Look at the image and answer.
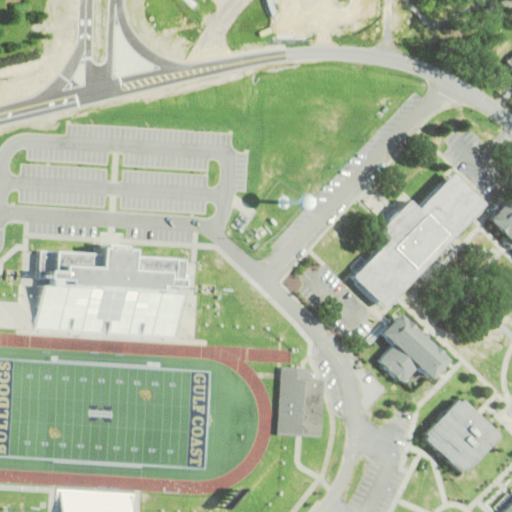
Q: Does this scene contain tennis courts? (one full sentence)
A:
No, the scene contains no tennis court.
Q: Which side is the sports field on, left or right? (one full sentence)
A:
The sports field is on the left side of the image.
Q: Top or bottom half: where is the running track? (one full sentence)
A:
The running track sits in the bottom half of the picture.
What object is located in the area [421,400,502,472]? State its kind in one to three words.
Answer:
building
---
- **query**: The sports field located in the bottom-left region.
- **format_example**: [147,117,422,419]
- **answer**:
[0,347,256,480]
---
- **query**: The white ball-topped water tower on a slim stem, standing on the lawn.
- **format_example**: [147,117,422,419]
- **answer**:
[277,193,318,210]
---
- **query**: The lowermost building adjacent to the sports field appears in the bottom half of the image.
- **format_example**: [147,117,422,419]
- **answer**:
[275,368,324,438]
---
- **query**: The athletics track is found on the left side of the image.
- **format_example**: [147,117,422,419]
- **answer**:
[0,332,292,494]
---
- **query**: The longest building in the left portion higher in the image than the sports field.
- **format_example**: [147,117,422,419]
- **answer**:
[35,245,192,292]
